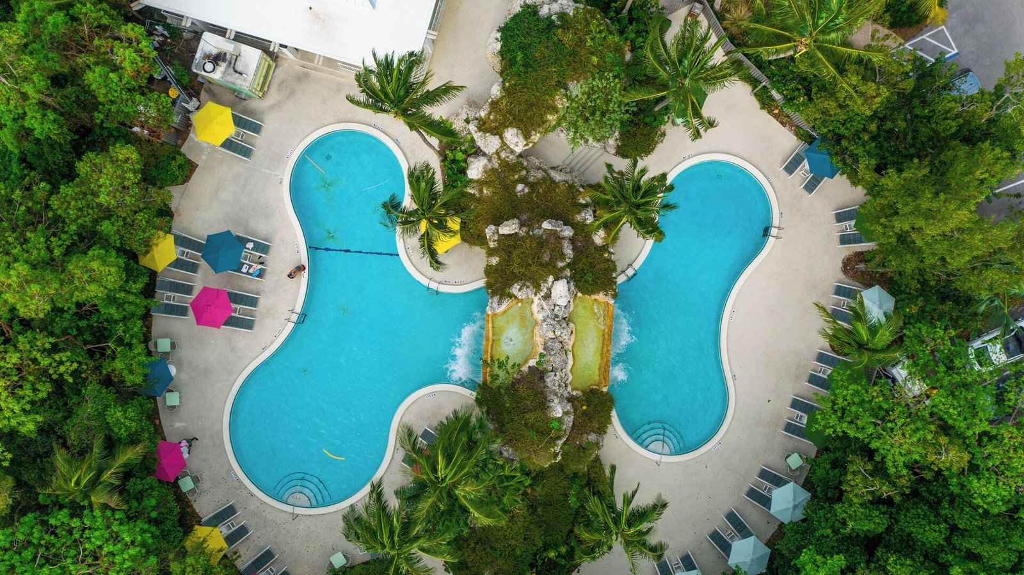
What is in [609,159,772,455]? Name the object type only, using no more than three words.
swimming pool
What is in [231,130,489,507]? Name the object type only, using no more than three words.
swimming pool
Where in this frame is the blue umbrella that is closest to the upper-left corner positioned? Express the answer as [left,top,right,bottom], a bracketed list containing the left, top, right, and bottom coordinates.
[200,231,245,272]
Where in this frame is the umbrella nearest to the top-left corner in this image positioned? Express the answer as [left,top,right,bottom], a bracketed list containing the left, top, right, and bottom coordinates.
[192,102,236,145]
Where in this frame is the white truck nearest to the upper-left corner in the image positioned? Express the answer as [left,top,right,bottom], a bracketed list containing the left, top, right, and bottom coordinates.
[193,33,272,100]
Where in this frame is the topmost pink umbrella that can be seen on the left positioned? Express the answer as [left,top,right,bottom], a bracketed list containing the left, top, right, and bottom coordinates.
[190,286,234,328]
